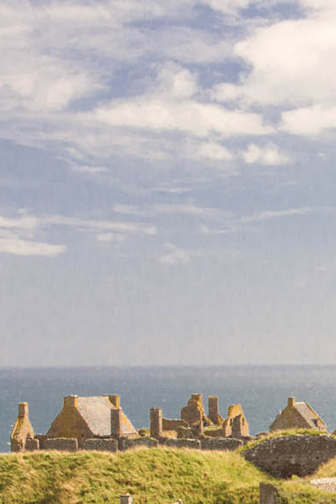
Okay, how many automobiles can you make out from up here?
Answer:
0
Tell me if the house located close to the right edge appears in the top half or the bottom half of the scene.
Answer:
bottom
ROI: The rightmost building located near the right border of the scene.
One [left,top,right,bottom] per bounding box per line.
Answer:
[268,397,336,432]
